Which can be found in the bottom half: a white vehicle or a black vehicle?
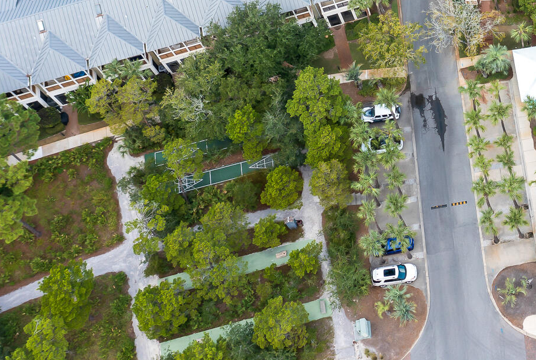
white vehicle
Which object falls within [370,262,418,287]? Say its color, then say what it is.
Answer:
white car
